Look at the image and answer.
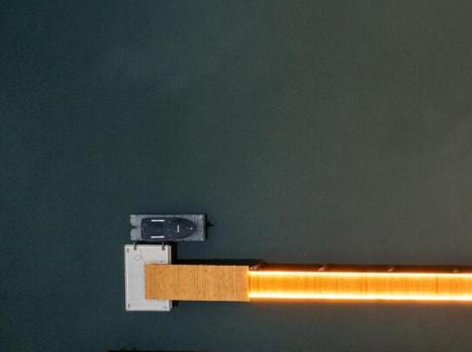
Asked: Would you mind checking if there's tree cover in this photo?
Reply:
No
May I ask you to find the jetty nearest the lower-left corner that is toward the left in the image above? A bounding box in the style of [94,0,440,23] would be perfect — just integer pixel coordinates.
[126,243,175,311]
